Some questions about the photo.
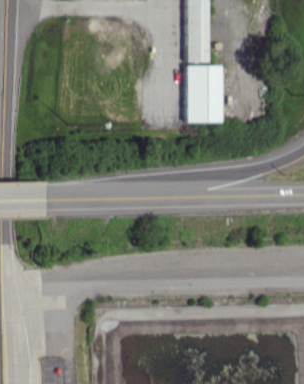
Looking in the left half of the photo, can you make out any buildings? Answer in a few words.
No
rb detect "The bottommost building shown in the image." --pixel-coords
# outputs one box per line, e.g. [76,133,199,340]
[184,65,224,123]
